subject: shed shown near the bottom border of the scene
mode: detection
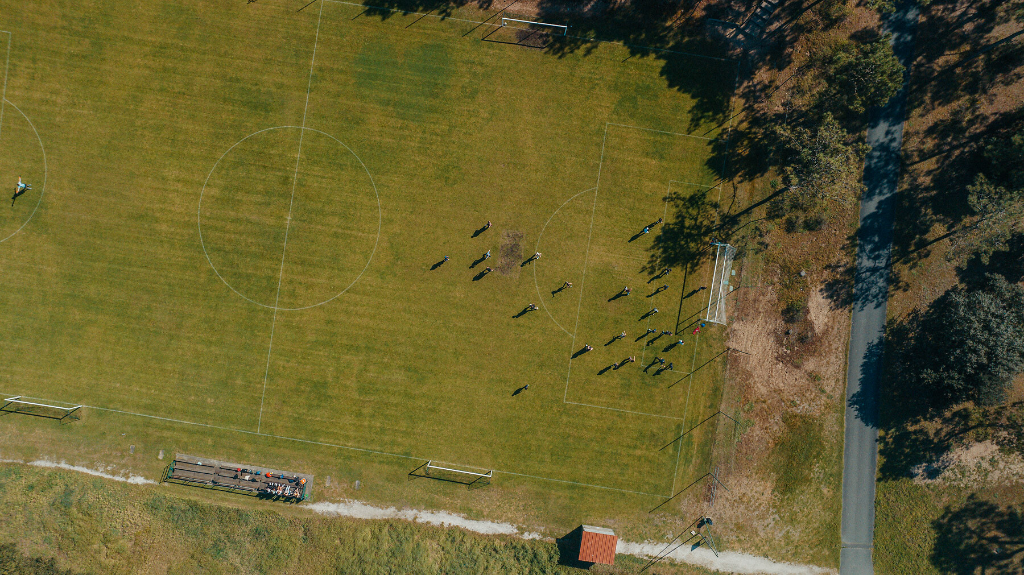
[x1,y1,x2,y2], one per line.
[578,525,619,566]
